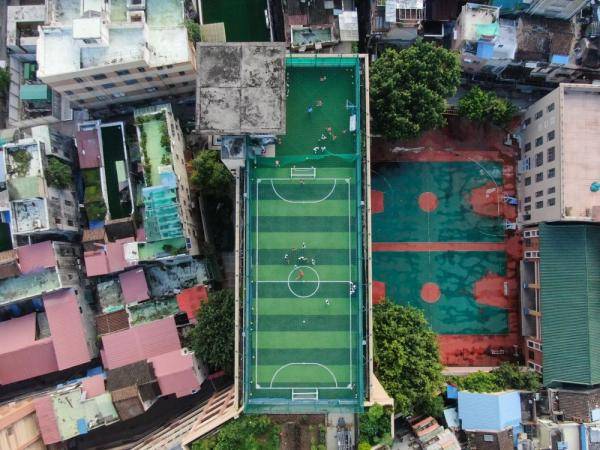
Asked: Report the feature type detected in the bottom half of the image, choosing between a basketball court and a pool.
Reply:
basketball court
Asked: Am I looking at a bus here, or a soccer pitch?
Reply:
soccer pitch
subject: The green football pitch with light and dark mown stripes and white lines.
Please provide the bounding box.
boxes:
[249,168,357,401]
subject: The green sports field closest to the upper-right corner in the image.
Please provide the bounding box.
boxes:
[250,66,357,167]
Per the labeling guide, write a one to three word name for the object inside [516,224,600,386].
building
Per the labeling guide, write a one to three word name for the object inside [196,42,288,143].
building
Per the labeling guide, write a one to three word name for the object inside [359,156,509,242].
basketball court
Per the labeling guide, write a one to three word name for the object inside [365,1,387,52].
house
